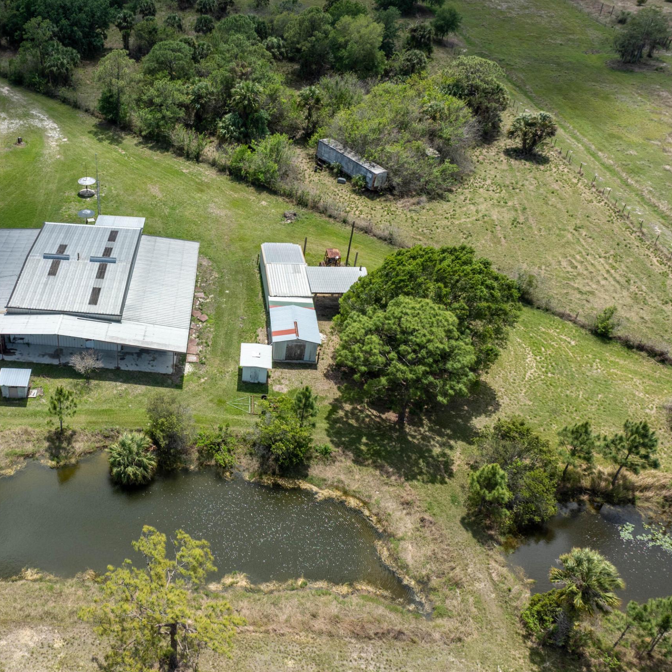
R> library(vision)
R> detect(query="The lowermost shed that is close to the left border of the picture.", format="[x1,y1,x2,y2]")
[0,365,32,399]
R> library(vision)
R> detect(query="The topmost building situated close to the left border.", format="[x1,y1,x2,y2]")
[0,217,201,374]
